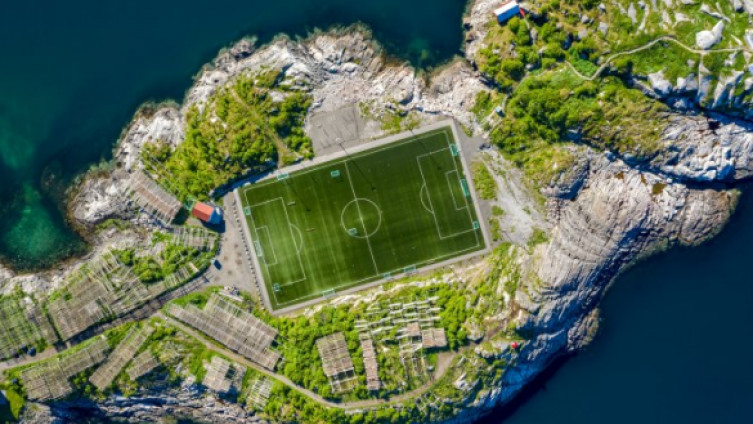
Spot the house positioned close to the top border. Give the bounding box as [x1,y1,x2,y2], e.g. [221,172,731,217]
[492,2,524,25]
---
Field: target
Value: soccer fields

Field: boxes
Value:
[235,119,489,316]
